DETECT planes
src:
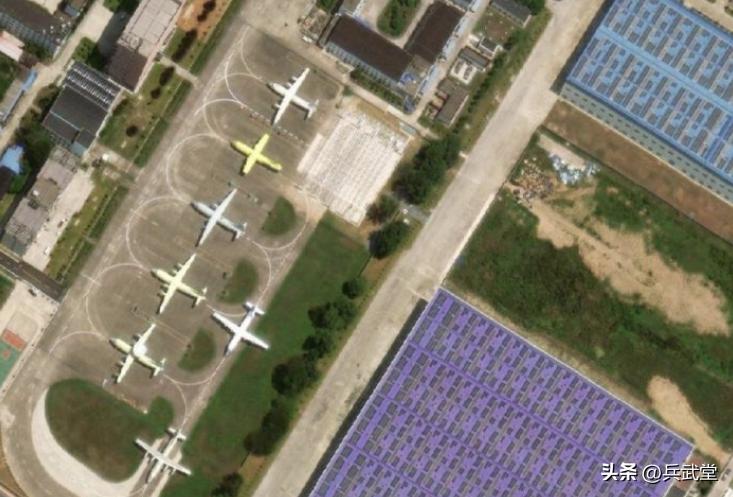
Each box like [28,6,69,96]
[191,187,248,246]
[268,66,321,124]
[152,252,208,312]
[137,428,190,483]
[233,132,282,173]
[212,302,269,355]
[110,323,166,382]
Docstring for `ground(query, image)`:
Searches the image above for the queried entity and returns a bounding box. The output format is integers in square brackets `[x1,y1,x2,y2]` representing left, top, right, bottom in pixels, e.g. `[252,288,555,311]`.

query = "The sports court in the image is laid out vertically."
[0,329,27,389]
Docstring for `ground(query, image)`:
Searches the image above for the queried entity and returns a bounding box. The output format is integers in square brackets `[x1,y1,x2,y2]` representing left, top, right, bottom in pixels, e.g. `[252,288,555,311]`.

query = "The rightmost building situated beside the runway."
[560,0,733,204]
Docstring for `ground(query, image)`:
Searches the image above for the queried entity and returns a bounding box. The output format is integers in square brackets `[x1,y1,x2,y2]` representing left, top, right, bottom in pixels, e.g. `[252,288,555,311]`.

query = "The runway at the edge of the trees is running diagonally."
[253,0,616,497]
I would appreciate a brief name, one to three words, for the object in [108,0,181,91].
building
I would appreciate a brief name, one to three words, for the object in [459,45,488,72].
shed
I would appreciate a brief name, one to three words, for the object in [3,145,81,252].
building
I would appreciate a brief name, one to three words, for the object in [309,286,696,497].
warehouse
